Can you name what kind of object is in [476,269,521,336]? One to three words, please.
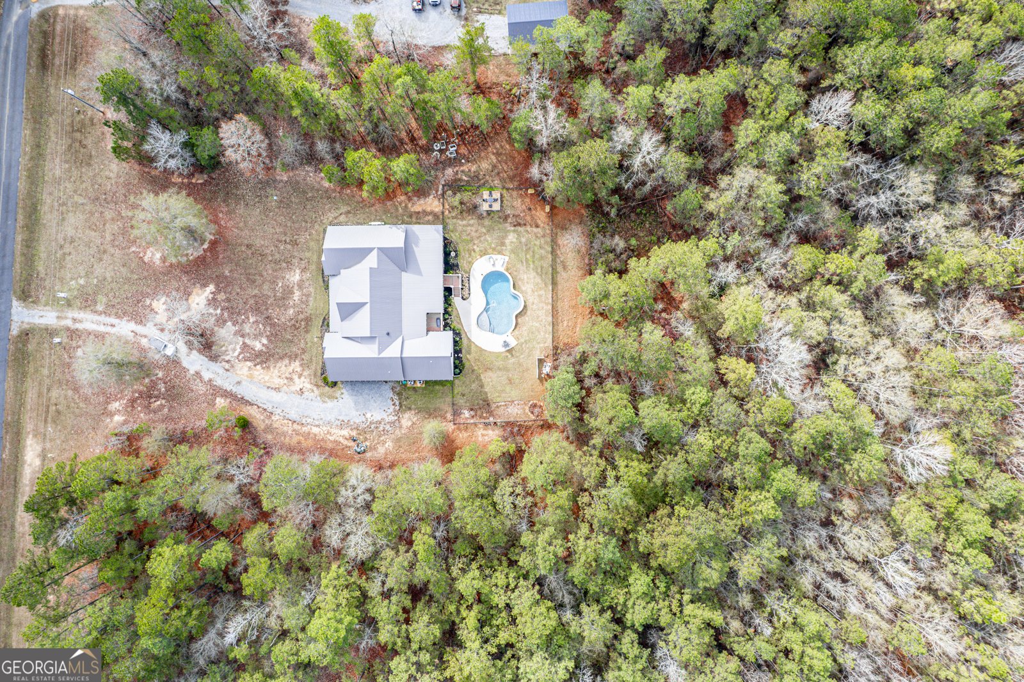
swimming pool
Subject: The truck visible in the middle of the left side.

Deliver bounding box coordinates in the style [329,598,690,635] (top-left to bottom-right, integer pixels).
[147,335,180,359]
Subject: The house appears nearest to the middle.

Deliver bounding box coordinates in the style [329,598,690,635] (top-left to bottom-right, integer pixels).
[324,225,454,382]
